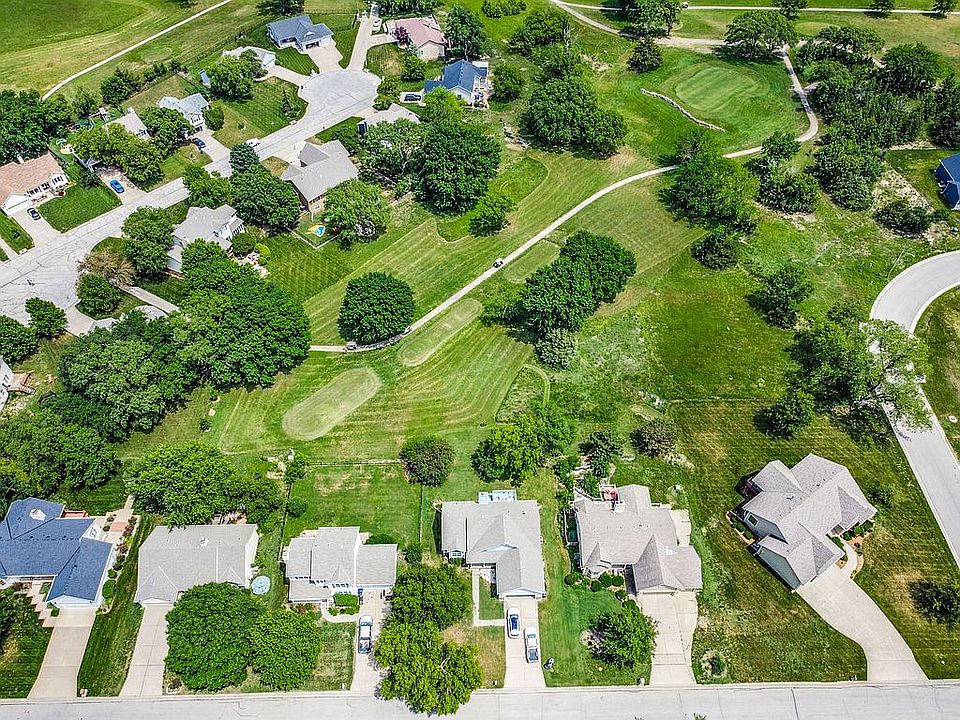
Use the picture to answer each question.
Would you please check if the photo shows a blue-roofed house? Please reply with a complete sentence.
Yes, the image includes a blue-roofed house.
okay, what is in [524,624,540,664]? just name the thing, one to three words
vehicle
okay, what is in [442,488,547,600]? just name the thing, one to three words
house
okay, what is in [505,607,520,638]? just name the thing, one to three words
car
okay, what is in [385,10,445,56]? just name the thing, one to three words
house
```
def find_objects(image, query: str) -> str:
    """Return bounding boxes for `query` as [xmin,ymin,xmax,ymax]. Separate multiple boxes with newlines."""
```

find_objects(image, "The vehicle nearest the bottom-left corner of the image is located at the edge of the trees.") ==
[356,614,372,653]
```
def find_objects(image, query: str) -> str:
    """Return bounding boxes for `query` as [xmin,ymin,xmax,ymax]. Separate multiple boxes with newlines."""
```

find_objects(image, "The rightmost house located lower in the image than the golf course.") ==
[736,451,878,587]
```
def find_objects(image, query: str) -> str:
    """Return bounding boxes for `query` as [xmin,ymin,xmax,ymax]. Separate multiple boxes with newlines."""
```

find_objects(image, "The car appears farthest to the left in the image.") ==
[24,206,41,219]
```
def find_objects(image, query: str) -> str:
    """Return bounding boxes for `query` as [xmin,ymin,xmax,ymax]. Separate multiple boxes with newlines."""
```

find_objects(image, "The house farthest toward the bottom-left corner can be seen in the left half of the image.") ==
[0,497,118,605]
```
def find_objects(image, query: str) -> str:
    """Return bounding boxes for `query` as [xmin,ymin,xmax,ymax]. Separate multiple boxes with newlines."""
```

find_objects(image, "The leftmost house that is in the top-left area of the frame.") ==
[0,150,72,215]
